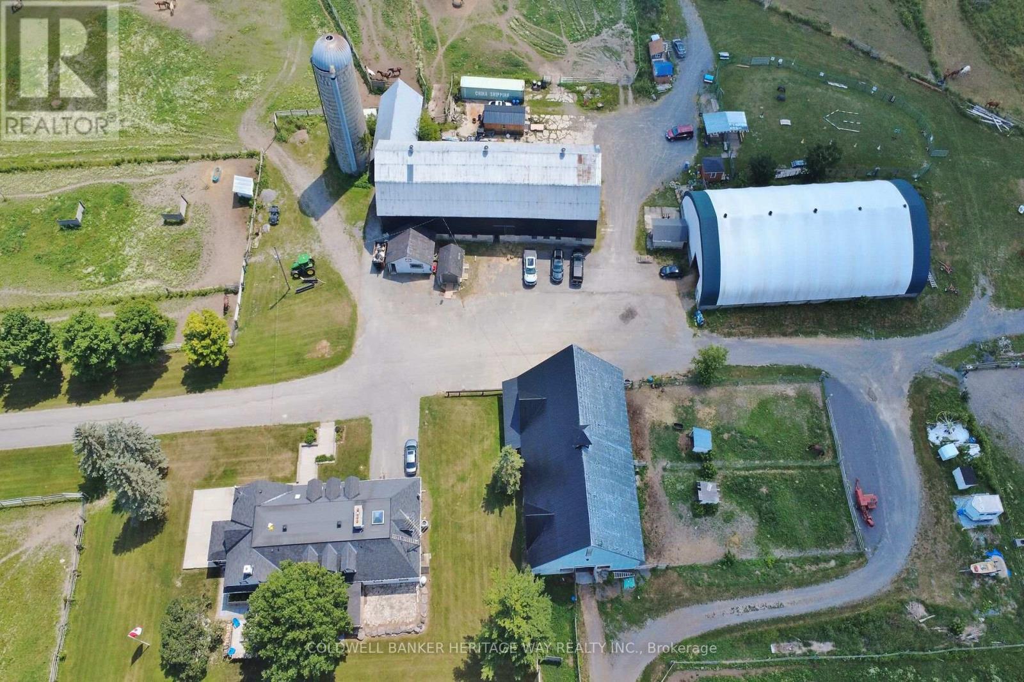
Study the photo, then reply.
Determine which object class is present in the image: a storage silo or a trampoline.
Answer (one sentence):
Visible in the photo is a storage silo.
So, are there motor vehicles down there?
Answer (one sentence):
Yes, looking at the shot, I can spot a motor vehicle.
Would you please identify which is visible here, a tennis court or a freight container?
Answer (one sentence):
There is a freight container in the scene.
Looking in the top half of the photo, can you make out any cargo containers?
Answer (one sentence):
Yes, I can see a cargo container in the top half of the photo.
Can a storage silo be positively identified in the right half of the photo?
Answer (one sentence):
No, looking in the right half of the photo, there is no storage silo.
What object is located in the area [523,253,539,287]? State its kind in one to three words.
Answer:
vehicle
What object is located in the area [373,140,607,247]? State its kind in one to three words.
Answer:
barn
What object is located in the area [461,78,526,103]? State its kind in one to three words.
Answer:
shipping container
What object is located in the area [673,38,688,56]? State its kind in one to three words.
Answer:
car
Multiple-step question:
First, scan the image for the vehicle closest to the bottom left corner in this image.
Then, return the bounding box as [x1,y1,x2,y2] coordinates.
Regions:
[400,438,420,475]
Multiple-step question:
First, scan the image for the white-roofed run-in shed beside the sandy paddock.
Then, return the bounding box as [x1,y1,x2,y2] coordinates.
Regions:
[226,181,256,208]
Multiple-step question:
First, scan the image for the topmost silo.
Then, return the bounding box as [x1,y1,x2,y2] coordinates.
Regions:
[313,39,373,177]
